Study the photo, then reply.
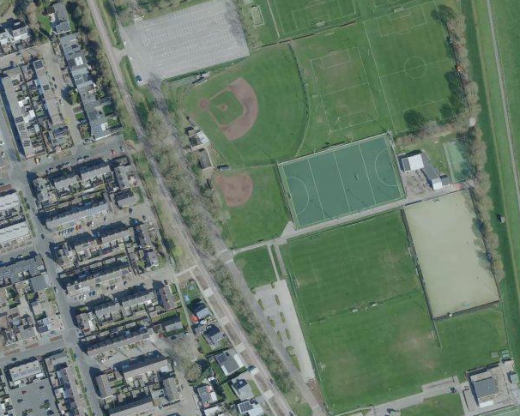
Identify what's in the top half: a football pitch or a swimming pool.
football pitch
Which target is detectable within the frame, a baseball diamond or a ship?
baseball diamond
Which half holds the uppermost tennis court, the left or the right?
right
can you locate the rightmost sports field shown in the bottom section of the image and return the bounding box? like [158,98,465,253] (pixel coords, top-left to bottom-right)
[404,190,499,317]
